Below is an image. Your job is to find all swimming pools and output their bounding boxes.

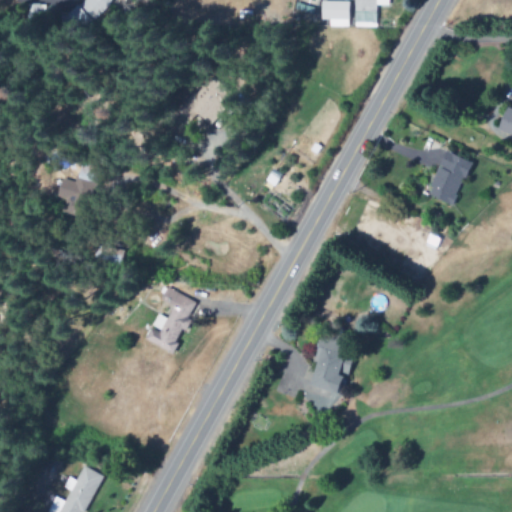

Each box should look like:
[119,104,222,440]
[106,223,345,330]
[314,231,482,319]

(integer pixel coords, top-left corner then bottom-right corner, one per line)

[369,293,387,311]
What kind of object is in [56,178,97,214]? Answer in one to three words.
house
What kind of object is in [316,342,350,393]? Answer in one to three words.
house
